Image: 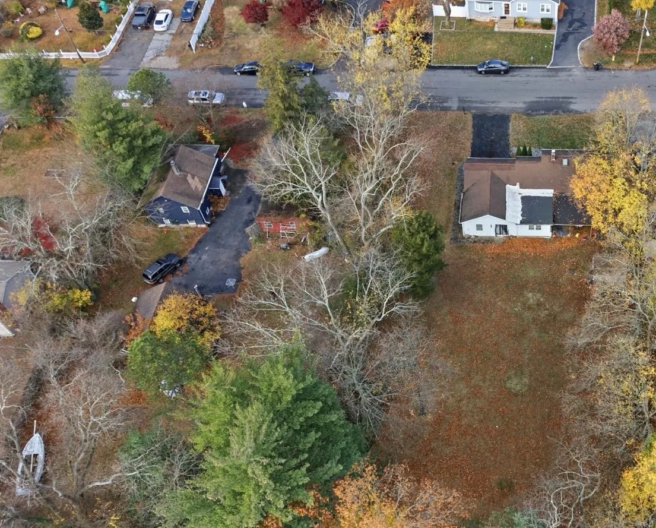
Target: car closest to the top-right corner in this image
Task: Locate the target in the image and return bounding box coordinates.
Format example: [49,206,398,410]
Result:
[476,59,510,75]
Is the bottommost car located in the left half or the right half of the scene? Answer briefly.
left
